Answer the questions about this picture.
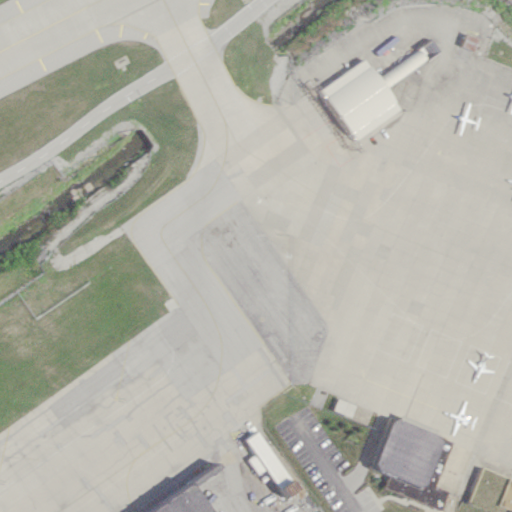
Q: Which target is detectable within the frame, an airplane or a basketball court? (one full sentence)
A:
The image shows an airplane.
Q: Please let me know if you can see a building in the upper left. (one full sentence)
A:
No, I can find no building in the upper left.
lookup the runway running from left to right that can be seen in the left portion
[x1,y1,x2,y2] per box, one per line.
[0,0,215,100]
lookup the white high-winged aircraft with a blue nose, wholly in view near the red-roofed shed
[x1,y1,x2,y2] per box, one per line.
[456,104,480,134]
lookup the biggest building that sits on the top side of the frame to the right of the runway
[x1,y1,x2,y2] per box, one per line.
[320,61,404,142]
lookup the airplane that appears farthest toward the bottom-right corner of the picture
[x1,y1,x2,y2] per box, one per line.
[446,401,478,436]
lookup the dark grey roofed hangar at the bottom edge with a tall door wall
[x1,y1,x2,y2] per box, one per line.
[140,466,224,512]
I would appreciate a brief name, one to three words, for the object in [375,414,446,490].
building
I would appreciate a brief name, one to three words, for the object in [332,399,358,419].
building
